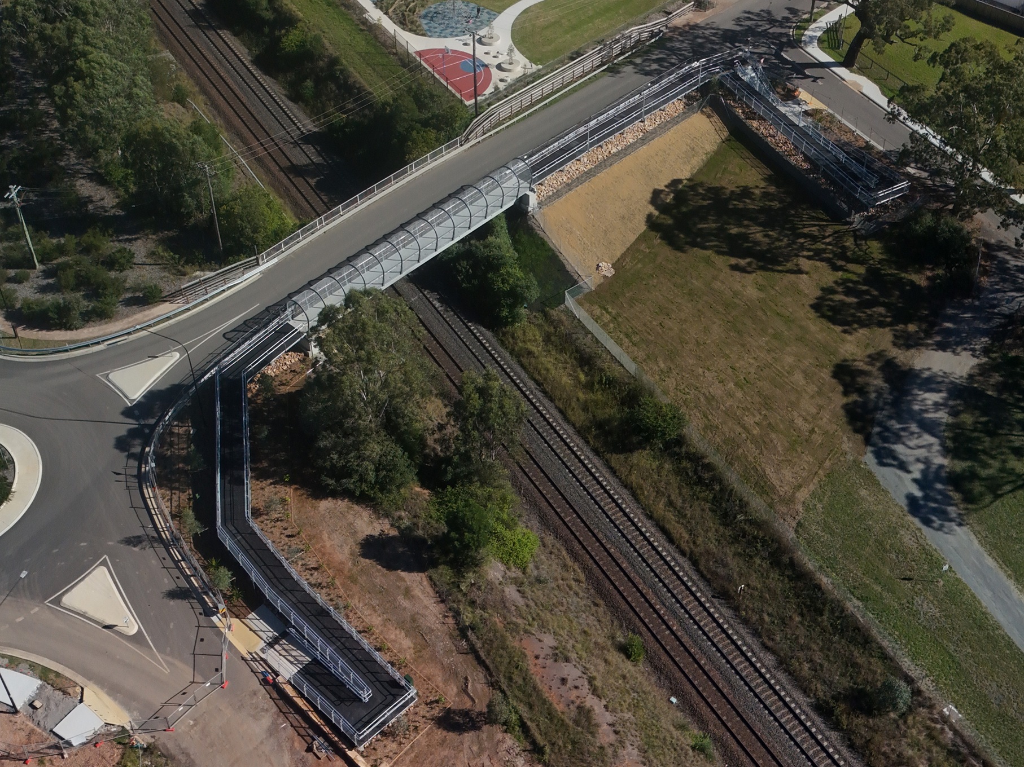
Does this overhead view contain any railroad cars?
No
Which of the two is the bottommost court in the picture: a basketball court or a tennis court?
basketball court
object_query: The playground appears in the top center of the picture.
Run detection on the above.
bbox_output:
[420,0,500,38]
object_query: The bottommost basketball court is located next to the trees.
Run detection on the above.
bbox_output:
[414,48,492,101]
